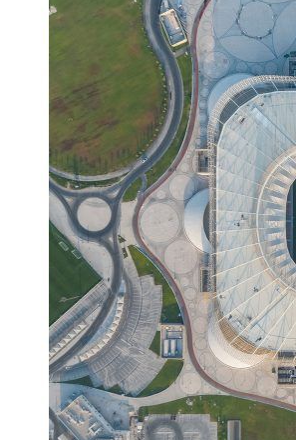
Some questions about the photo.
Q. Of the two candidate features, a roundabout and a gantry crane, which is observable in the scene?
roundabout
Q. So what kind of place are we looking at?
sports ground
